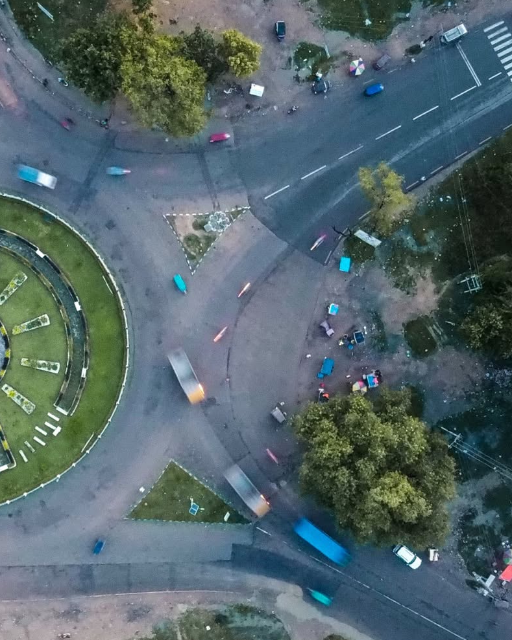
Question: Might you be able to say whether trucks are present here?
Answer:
Yes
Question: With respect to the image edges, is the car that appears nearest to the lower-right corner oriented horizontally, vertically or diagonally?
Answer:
diagonally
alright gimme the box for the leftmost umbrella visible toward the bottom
[351,378,367,394]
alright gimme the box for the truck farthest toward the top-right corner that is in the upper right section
[433,22,469,47]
